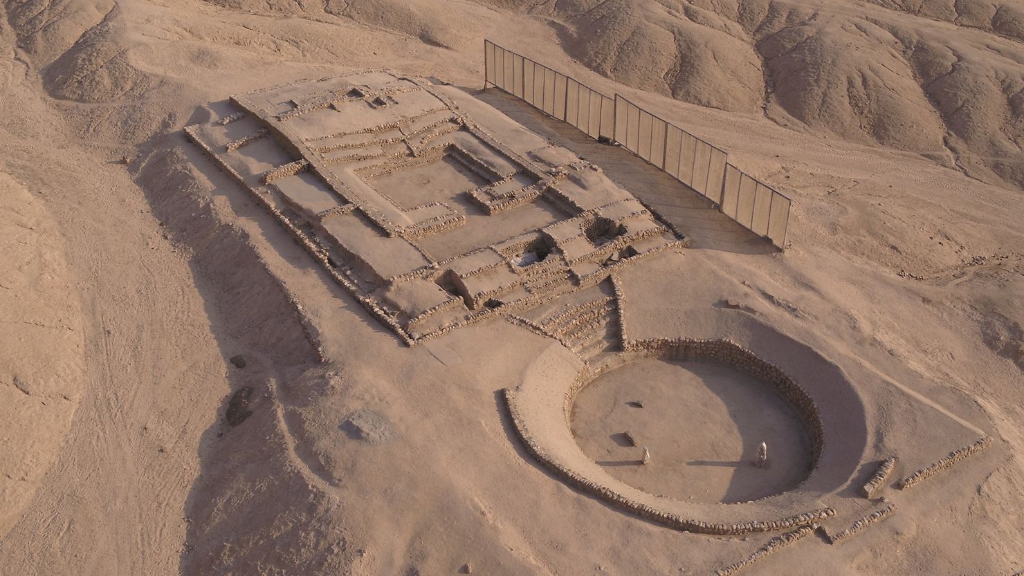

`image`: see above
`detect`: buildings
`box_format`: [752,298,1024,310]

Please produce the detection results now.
[183,70,690,352]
